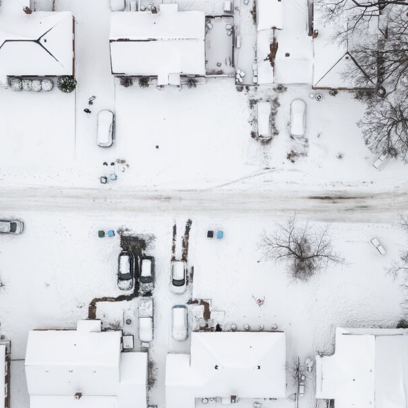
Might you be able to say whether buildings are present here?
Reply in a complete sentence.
Yes, there is a building in the image.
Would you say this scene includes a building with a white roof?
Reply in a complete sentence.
Yes, this view includes a building with a white roof.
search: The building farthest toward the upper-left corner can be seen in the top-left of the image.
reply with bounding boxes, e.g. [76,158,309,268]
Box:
[0,0,74,87]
